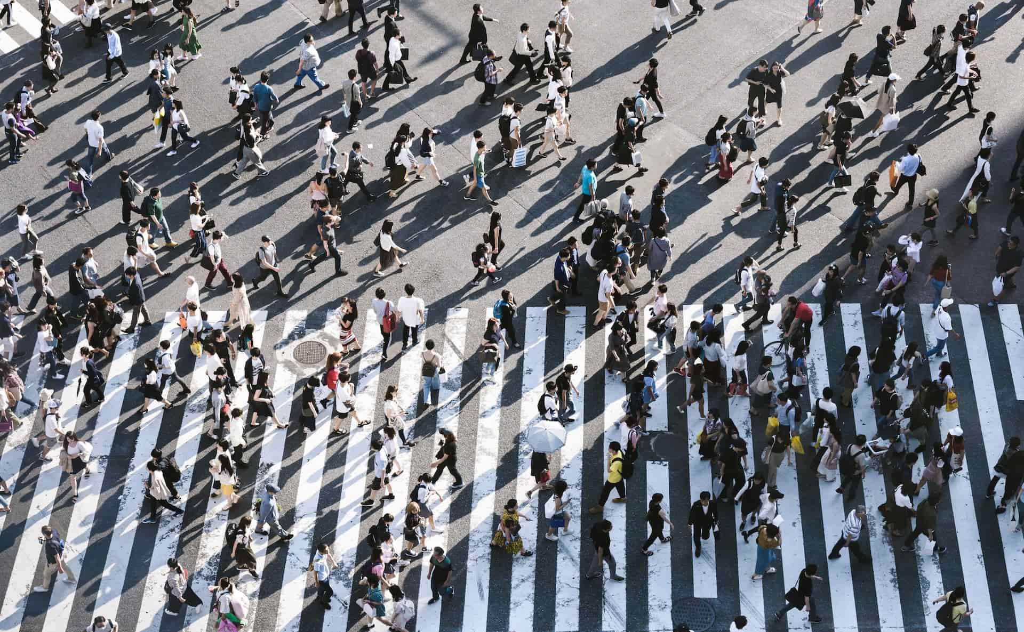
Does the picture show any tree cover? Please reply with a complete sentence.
No, no tree cover is visible.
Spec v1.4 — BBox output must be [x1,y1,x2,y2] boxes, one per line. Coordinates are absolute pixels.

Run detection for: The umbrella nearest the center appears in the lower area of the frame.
[524,414,572,464]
